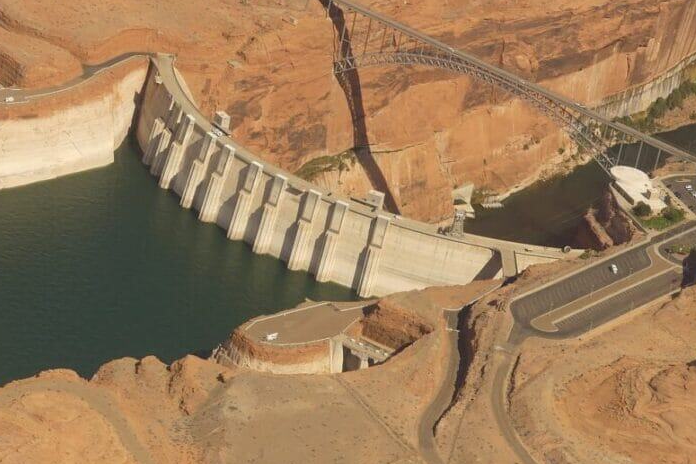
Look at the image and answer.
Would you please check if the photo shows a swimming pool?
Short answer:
No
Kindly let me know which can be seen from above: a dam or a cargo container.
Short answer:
dam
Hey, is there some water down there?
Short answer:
Yes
